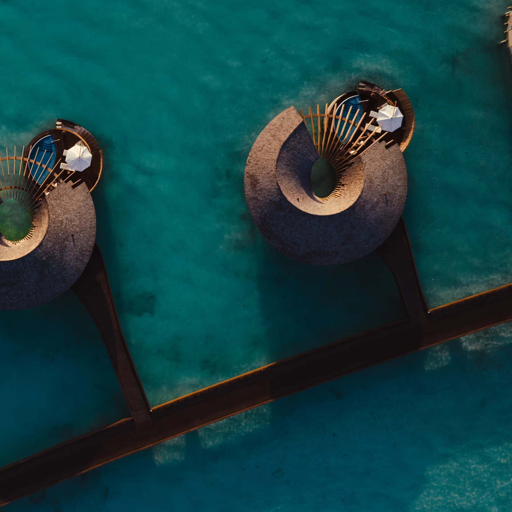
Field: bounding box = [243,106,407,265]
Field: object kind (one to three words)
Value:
house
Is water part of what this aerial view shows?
Yes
